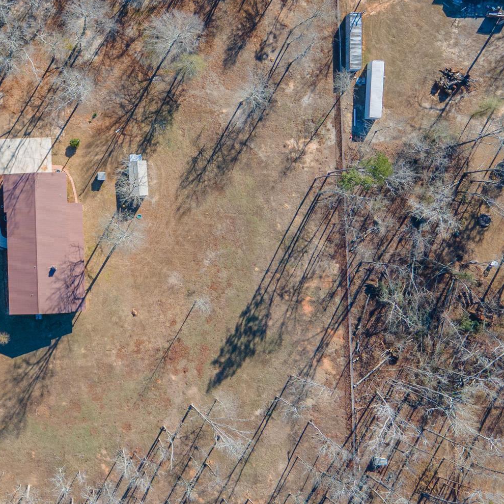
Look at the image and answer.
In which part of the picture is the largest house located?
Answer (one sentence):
You can find the largest house in the left area of the picture.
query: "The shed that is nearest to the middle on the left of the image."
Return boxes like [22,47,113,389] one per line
[128,155,149,197]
